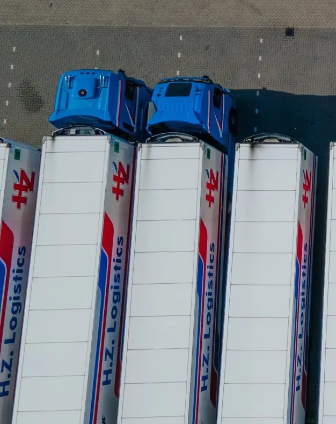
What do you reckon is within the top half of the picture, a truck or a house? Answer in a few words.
truck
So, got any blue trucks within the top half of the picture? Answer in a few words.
Yes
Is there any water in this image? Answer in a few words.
No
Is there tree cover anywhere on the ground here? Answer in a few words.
No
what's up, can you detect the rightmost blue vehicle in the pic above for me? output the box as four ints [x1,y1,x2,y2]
[146,75,235,219]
